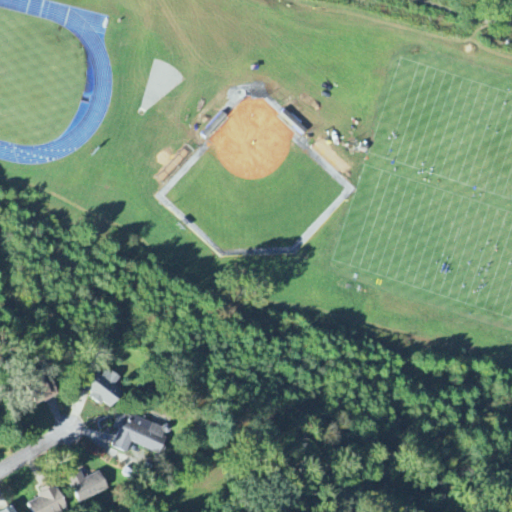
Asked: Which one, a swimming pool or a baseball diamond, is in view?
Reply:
baseball diamond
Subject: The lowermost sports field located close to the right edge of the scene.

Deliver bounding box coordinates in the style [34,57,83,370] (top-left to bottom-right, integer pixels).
[330,162,512,319]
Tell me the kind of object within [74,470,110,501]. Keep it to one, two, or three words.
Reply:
house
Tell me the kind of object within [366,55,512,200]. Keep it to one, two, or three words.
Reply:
sports field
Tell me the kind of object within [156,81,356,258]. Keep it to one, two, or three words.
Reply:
baseball field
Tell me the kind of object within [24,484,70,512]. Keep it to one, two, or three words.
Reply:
house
